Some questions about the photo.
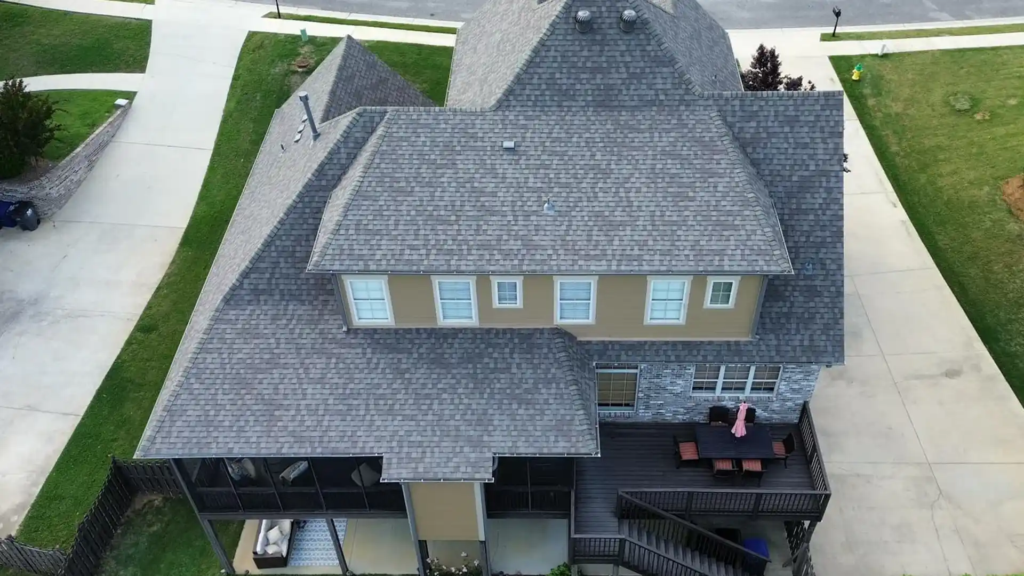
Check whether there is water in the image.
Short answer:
No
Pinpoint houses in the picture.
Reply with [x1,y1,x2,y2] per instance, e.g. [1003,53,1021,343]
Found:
[132,0,845,576]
